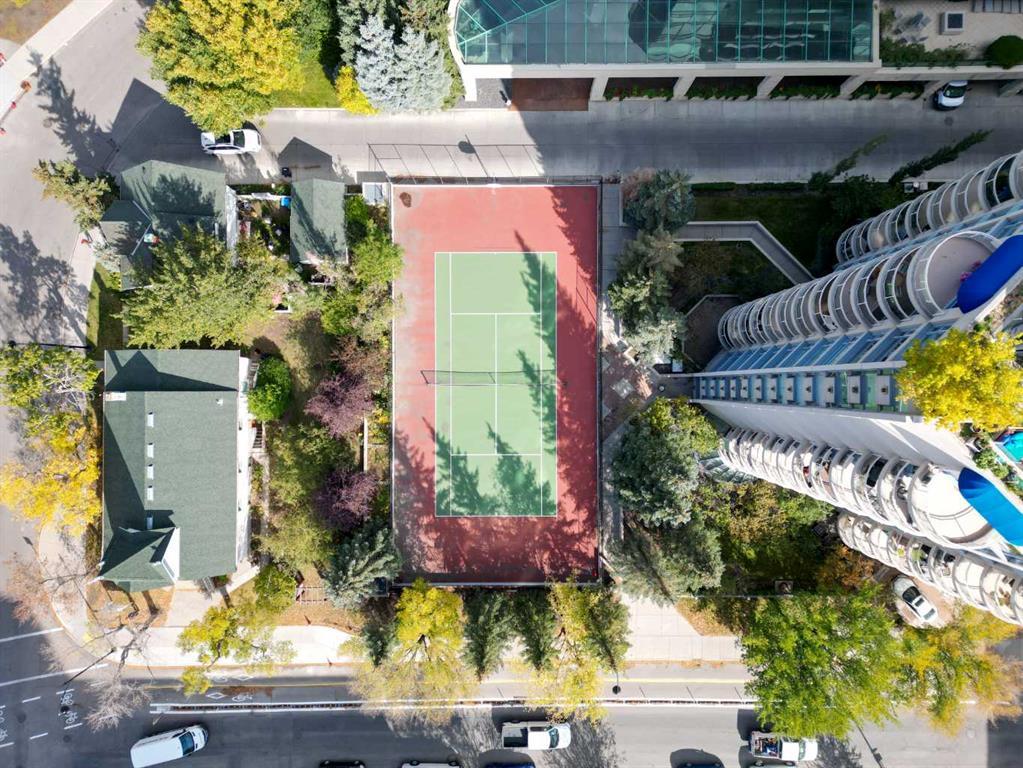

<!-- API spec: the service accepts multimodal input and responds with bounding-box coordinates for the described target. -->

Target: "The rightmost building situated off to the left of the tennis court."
[290,179,350,265]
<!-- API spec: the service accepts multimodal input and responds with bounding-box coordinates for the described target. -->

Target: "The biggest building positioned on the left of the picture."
[87,349,269,589]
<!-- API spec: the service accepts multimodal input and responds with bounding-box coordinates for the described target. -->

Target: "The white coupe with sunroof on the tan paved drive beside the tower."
[887,576,939,629]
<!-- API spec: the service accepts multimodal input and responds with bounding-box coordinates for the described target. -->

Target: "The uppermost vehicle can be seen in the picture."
[938,79,969,112]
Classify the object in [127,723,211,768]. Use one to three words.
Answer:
van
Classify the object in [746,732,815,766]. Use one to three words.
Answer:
truck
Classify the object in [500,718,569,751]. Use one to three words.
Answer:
truck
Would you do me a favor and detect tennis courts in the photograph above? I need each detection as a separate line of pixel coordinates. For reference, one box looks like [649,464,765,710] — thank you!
[390,182,603,585]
